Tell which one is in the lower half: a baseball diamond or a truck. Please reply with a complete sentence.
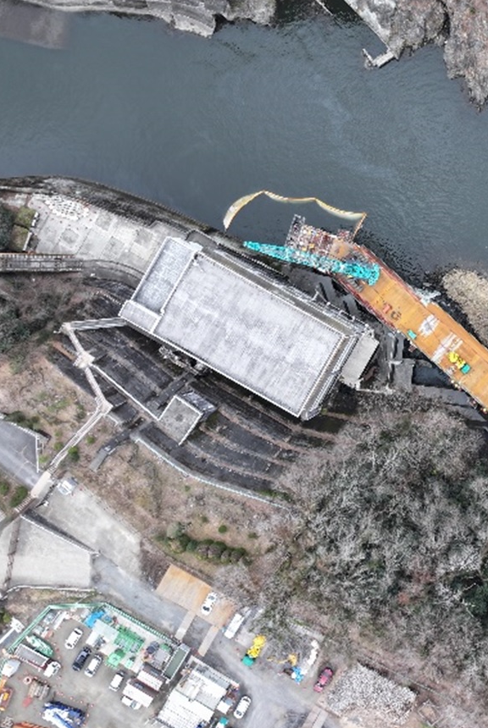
Visible in the lower half is a truck.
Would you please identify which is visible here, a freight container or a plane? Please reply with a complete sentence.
Looking from above, you can make out a freight container.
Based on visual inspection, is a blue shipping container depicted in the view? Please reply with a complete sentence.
No, there appears to be no blue shipping container in this shot.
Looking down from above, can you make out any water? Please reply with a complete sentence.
Yes, there's water in this view.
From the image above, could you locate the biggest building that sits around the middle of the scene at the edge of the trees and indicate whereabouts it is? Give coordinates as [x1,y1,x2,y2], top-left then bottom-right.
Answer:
[118,230,400,423]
